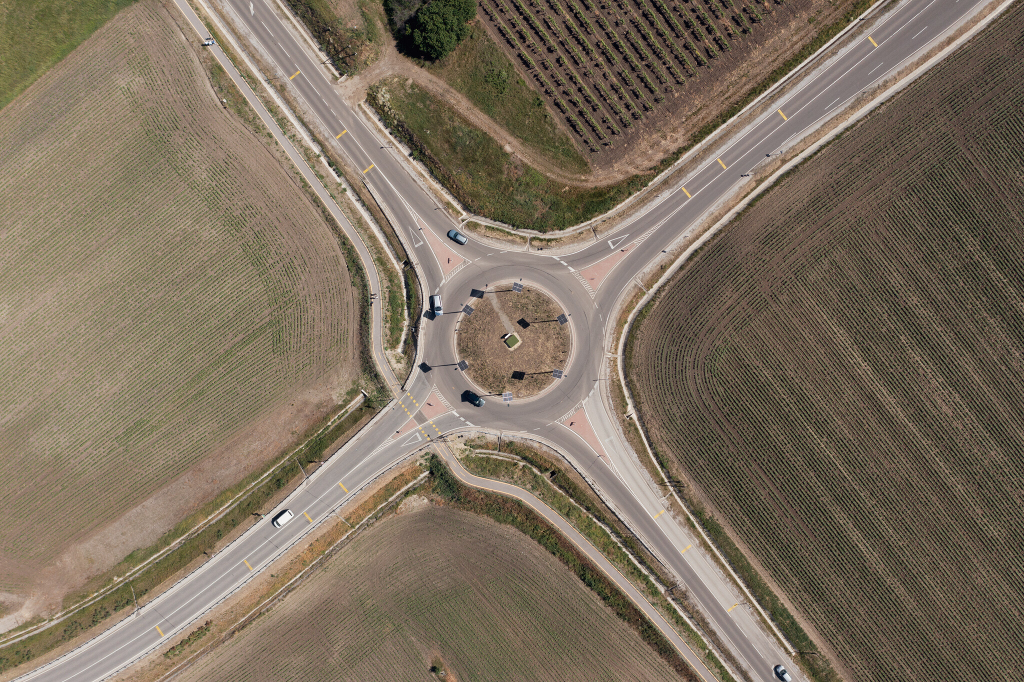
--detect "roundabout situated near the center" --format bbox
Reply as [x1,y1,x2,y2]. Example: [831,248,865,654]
[420,226,604,433]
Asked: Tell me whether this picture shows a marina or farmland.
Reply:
farmland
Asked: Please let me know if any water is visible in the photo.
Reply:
No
